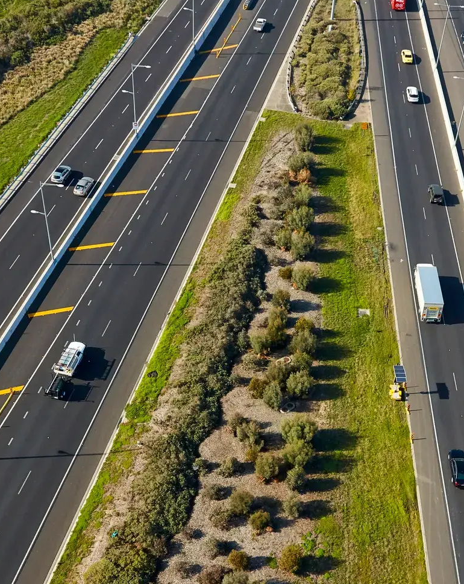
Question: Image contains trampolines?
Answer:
No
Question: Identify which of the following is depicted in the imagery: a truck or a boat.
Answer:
truck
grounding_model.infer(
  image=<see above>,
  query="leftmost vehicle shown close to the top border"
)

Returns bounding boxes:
[253,19,266,32]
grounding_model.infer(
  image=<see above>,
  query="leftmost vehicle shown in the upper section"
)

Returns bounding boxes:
[49,167,71,185]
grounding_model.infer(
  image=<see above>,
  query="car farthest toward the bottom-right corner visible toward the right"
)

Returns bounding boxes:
[448,453,464,490]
